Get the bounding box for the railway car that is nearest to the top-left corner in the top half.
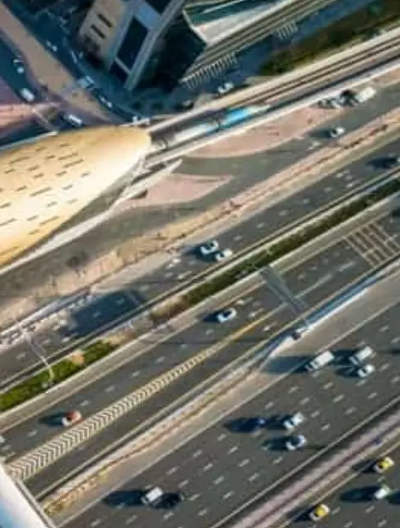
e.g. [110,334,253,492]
[150,133,188,156]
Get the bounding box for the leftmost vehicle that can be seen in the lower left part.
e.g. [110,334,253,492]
[61,409,82,425]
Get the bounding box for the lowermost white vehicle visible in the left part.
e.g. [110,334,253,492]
[140,485,167,505]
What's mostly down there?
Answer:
paved ground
